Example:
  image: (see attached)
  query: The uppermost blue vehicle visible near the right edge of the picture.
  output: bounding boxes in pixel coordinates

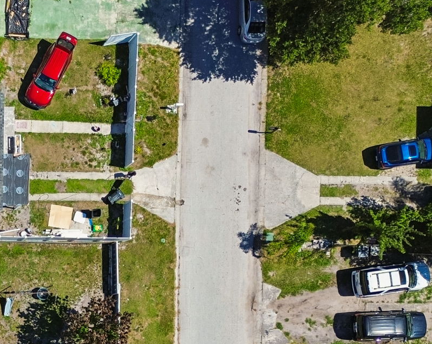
[371,133,432,170]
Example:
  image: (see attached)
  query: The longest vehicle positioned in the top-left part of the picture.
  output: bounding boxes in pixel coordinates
[26,29,78,114]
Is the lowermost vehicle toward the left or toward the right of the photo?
right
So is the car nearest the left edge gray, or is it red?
red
